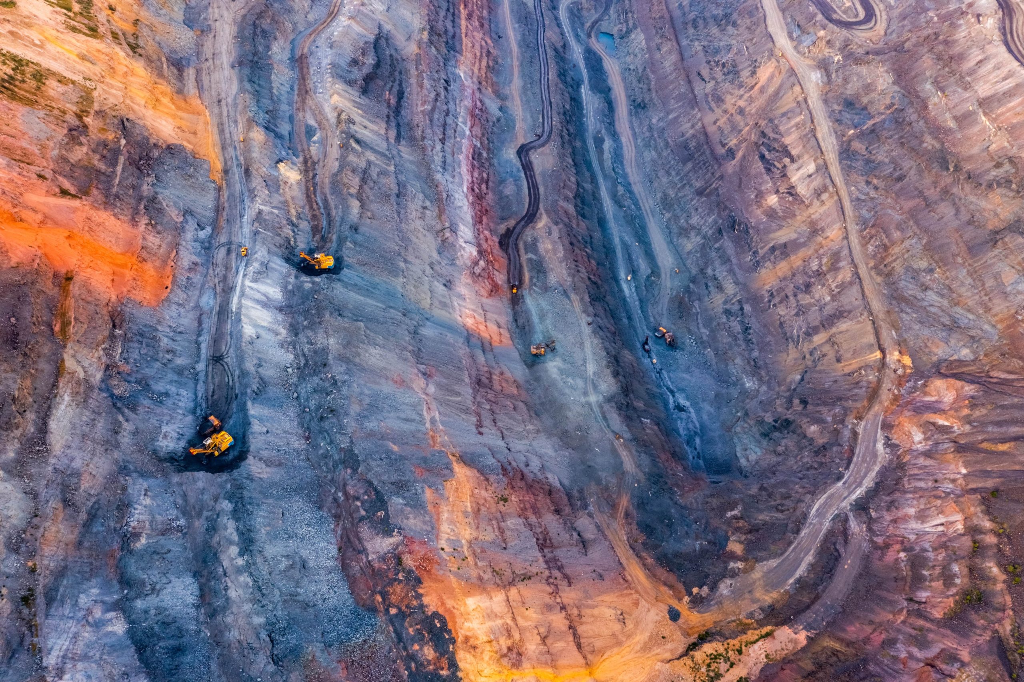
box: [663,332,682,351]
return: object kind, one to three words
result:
work vehicle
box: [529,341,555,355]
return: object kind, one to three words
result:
work vehicle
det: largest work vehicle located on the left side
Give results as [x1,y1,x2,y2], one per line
[178,428,227,458]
